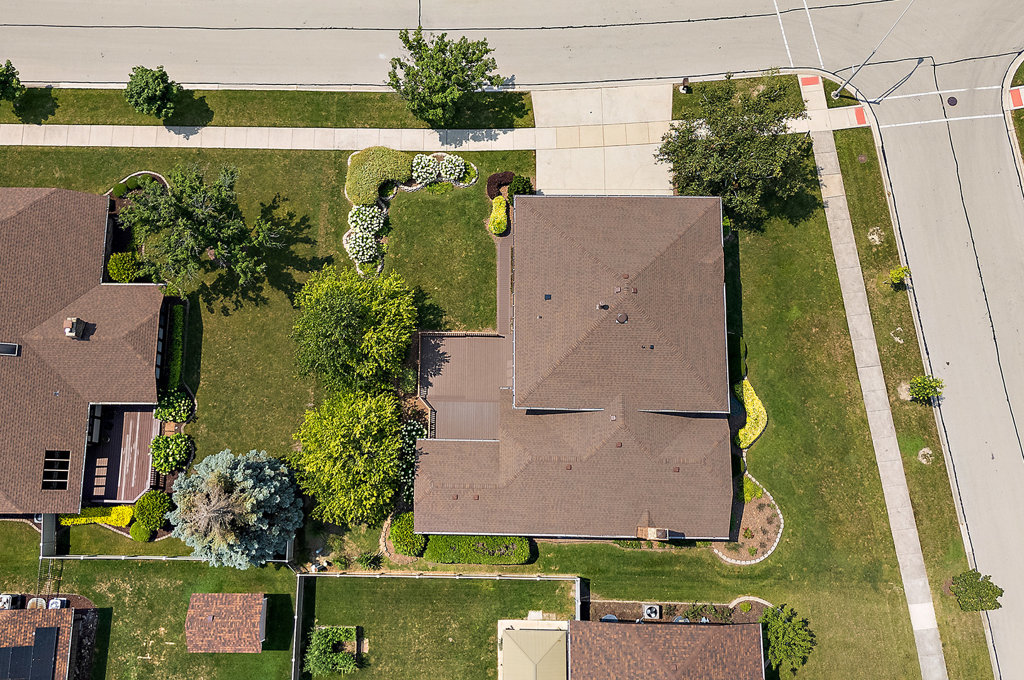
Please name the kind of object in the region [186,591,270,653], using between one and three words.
shed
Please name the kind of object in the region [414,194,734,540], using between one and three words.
house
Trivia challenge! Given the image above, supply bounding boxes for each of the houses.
[0,188,172,513]
[0,607,85,680]
[567,619,766,680]
[414,194,734,540]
